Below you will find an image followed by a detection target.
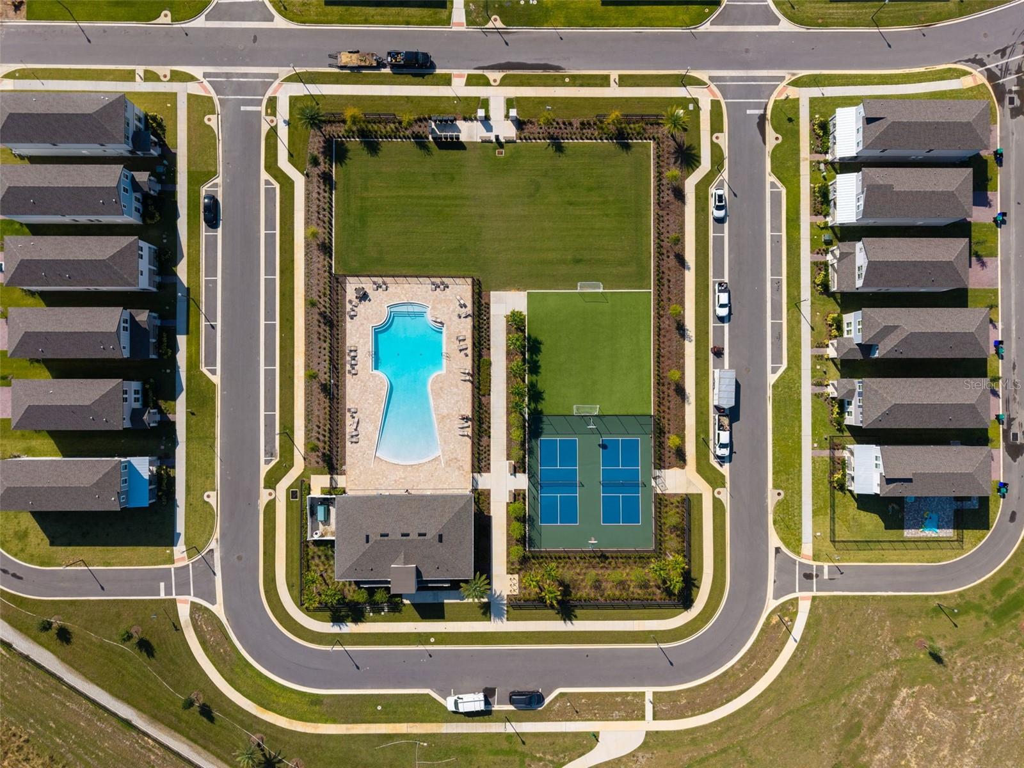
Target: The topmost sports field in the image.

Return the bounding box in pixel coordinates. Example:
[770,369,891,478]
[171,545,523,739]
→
[333,138,653,291]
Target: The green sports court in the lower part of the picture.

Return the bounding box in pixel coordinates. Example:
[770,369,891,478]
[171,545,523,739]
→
[528,417,655,550]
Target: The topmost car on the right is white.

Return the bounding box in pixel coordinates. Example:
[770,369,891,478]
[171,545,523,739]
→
[711,188,727,219]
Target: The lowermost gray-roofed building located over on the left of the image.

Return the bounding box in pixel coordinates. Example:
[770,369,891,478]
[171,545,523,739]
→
[304,493,474,593]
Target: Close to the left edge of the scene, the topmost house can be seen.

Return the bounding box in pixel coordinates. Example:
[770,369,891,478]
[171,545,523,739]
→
[0,92,165,157]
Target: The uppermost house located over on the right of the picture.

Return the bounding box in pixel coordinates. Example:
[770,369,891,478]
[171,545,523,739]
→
[823,100,990,164]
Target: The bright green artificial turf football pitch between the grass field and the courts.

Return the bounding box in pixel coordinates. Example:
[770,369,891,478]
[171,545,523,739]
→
[526,290,653,551]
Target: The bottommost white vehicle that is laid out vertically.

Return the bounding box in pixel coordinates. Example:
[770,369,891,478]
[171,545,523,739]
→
[715,415,732,455]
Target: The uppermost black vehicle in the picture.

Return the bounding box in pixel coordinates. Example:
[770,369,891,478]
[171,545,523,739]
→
[389,50,432,68]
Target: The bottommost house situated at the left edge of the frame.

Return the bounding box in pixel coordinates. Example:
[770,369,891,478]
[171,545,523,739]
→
[0,455,163,511]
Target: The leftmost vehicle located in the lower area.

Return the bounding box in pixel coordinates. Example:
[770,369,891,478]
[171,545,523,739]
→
[447,691,486,714]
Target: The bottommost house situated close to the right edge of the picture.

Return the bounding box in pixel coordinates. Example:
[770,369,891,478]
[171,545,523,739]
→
[843,444,991,497]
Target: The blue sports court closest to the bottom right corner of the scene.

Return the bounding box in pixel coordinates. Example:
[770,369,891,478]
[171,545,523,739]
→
[601,438,641,525]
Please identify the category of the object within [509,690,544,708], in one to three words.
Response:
car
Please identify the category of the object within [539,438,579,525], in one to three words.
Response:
sports court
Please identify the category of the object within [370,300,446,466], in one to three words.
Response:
swimming pool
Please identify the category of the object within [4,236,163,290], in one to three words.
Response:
house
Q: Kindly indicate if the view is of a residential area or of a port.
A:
residential area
